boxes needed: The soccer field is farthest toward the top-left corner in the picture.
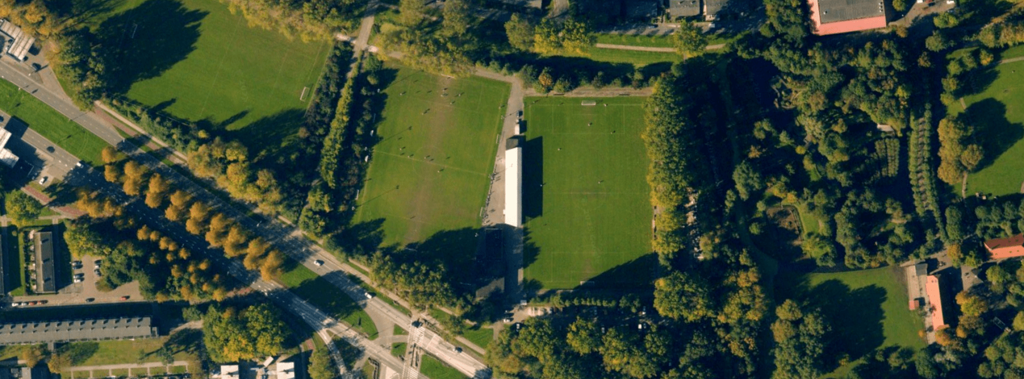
[112,0,331,147]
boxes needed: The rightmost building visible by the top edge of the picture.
[808,0,886,37]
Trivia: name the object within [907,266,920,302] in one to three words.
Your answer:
shed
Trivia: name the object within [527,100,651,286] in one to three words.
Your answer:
soccer field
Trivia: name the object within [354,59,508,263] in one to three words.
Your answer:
soccer field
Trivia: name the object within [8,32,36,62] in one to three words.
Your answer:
building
